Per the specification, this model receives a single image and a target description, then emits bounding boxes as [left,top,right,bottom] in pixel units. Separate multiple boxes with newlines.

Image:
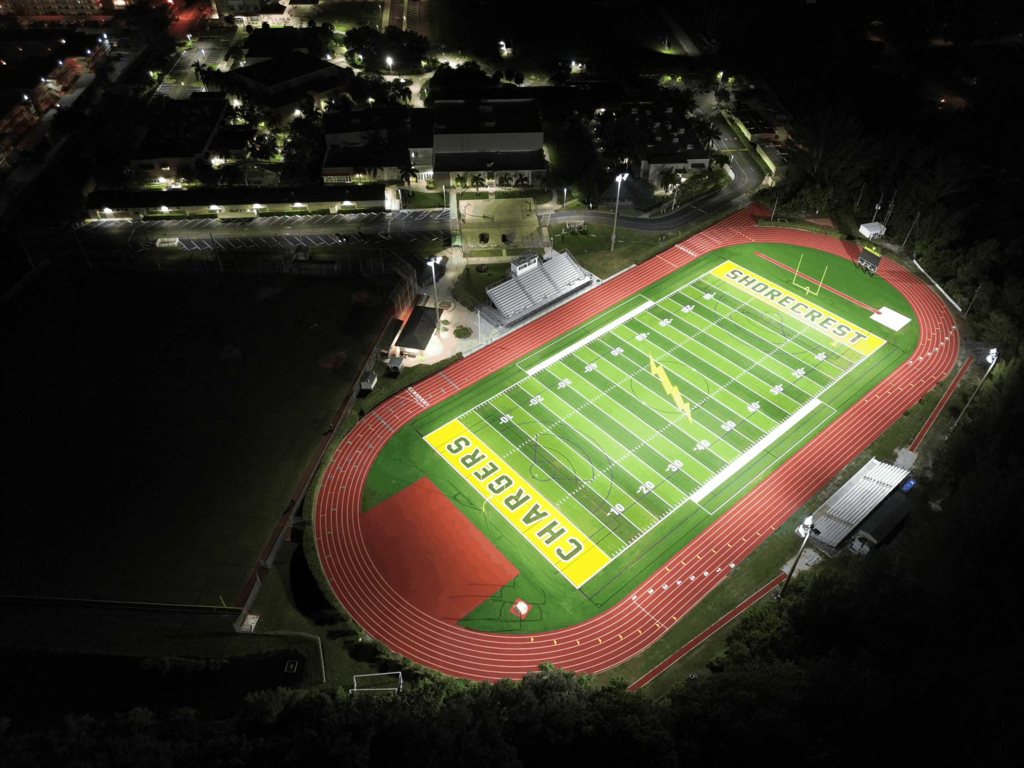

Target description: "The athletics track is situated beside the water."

[312,203,959,687]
